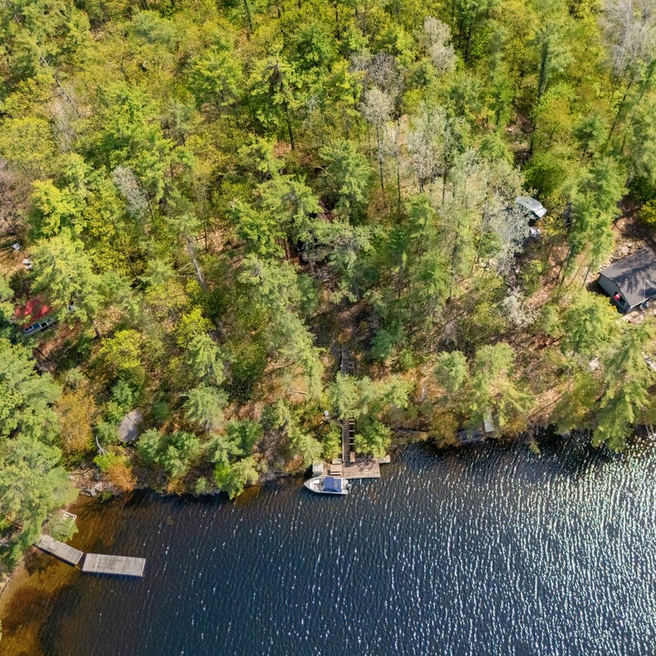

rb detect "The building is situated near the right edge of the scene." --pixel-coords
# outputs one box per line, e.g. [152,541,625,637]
[595,248,656,316]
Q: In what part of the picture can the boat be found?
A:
bottom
